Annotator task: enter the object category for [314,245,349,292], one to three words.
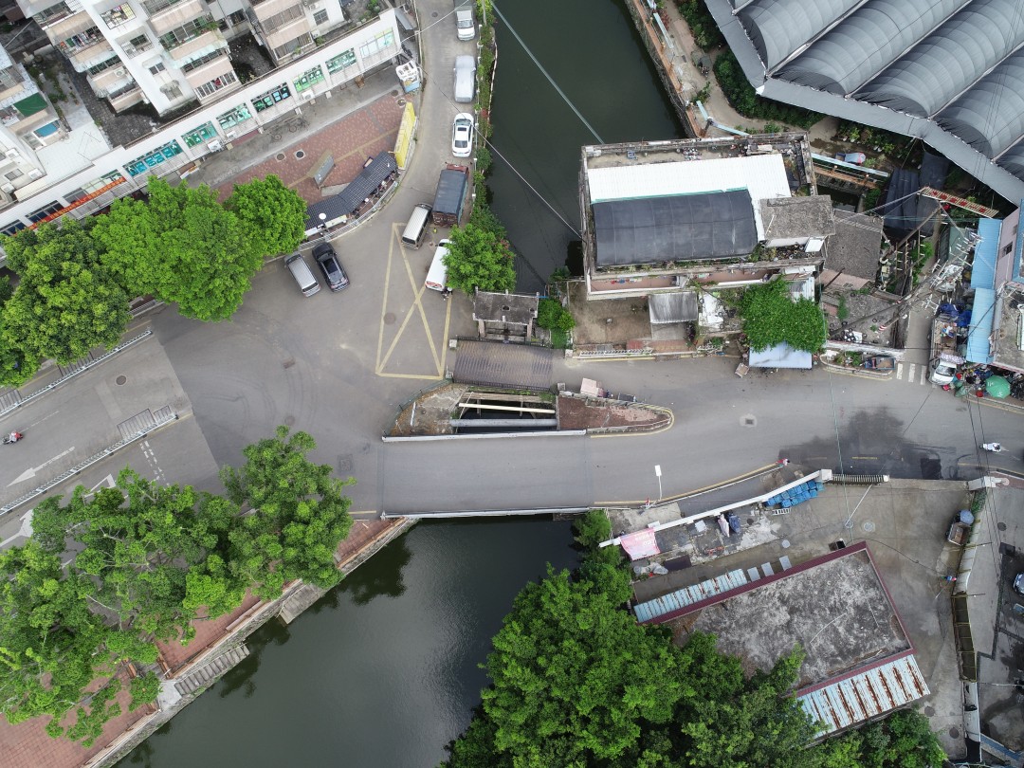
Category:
car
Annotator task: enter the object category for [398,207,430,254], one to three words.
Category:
car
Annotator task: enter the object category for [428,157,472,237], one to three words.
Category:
truck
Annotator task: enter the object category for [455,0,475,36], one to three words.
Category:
vehicle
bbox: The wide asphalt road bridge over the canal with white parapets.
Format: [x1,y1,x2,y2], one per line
[379,430,594,521]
